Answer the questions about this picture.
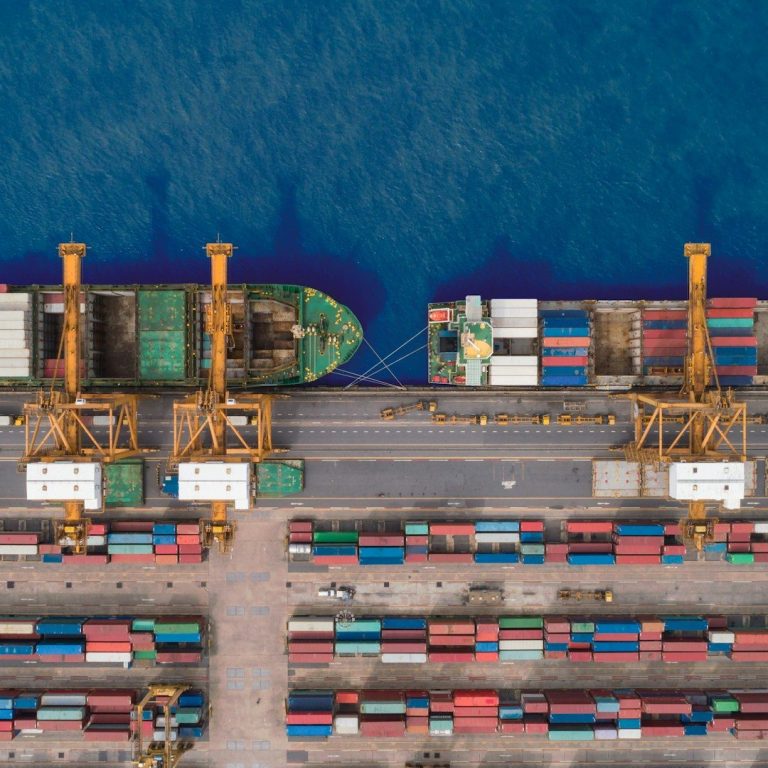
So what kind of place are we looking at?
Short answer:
port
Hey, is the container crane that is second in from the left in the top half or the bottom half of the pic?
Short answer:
bottom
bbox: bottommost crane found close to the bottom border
[128,684,195,768]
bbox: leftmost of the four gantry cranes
[16,230,160,552]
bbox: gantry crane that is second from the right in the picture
[166,230,290,552]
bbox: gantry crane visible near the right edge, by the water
[608,244,748,552]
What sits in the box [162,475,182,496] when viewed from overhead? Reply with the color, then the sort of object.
blue work vehicle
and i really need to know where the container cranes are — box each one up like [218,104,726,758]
[166,230,290,552]
[16,230,160,552]
[608,244,748,552]
[128,684,195,768]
